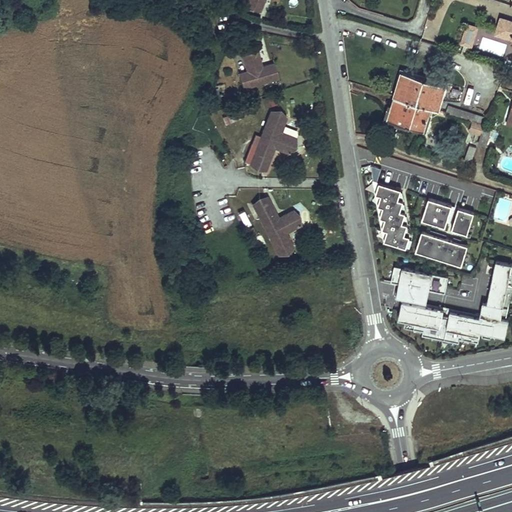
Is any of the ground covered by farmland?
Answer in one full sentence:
Yes, there's farmland in this view.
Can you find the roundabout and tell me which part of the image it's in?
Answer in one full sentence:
The roundabout sits in the bottom right section of the image.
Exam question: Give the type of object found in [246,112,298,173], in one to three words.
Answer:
house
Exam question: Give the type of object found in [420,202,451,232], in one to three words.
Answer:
building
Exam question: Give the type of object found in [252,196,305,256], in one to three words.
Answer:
house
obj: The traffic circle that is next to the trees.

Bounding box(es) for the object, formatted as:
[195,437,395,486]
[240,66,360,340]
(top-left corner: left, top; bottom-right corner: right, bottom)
[340,326,432,426]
